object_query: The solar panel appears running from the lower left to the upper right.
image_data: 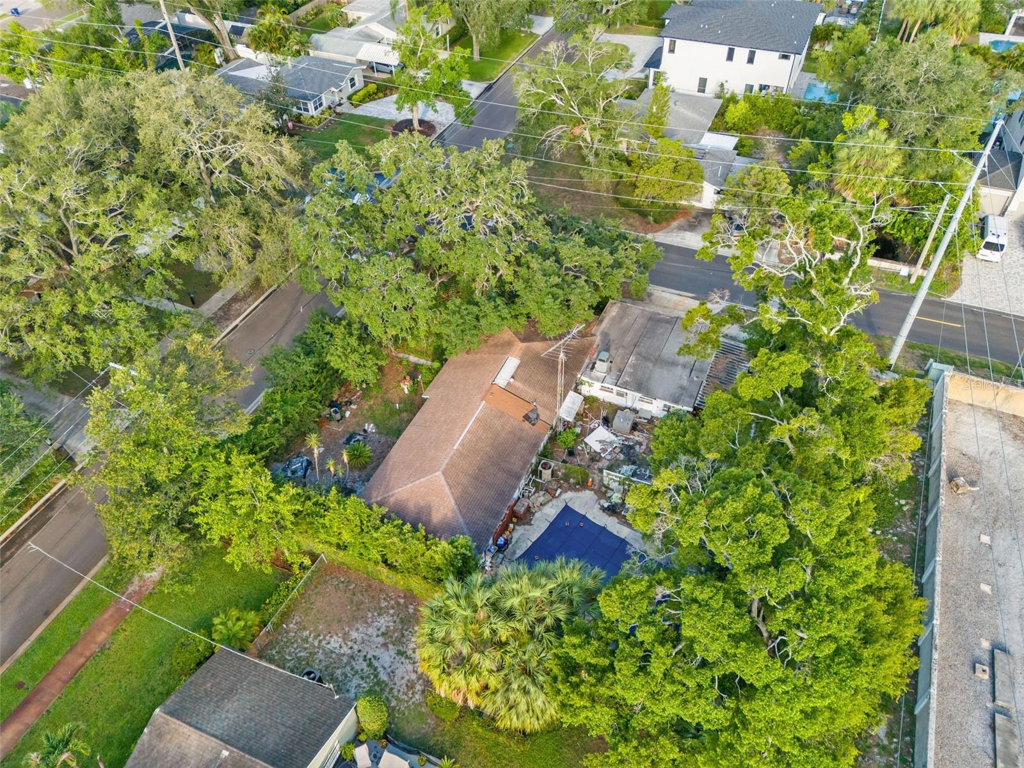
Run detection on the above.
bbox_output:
[493,356,520,386]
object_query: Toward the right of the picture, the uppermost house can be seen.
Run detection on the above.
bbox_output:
[641,4,816,100]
